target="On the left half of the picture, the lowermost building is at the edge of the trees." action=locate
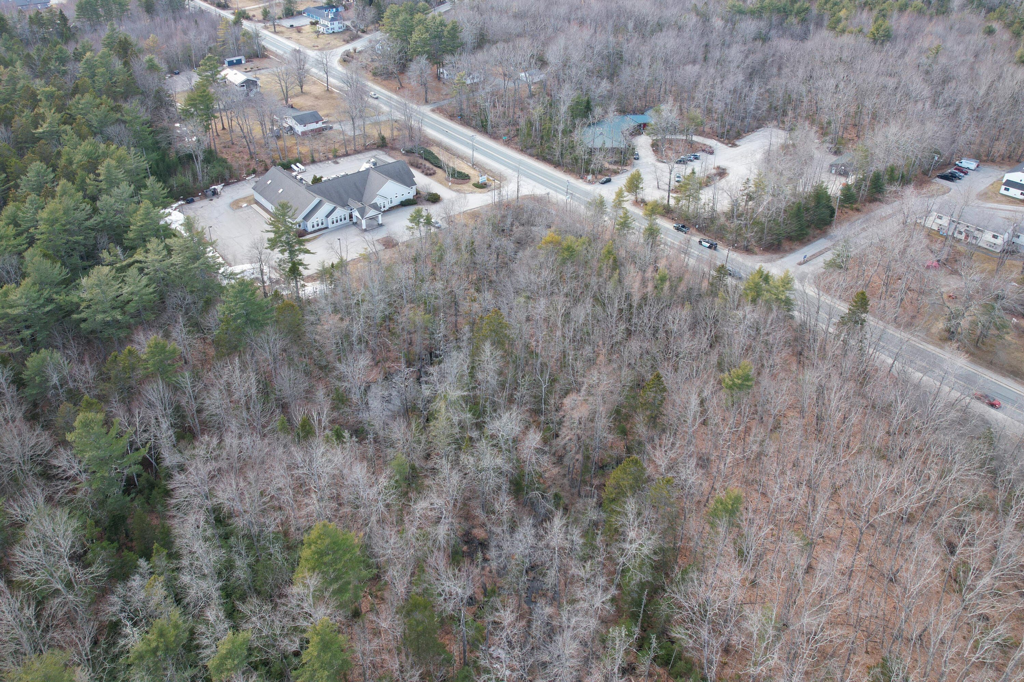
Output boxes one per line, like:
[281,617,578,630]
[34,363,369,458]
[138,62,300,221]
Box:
[250,154,420,233]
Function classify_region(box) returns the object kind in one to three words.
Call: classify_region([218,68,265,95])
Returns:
house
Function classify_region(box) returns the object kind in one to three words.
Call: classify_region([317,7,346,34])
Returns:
house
